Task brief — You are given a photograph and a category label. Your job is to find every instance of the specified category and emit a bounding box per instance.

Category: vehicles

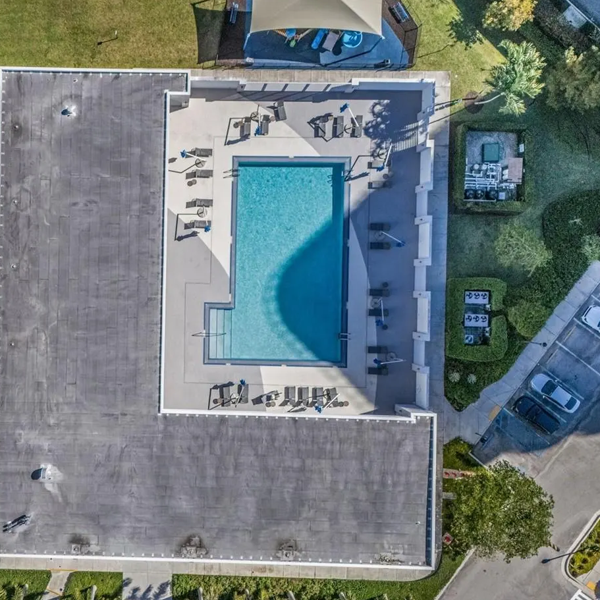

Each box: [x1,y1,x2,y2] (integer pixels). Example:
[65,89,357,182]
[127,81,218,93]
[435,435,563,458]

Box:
[510,393,564,436]
[579,303,600,332]
[529,372,583,416]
